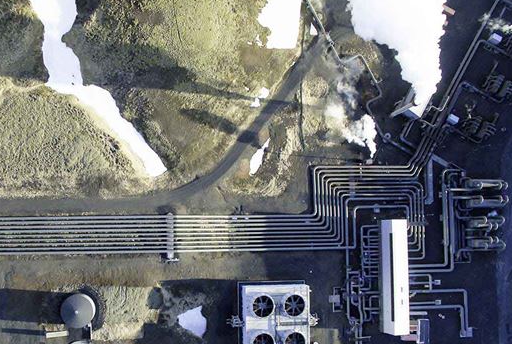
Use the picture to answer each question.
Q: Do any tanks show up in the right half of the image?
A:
No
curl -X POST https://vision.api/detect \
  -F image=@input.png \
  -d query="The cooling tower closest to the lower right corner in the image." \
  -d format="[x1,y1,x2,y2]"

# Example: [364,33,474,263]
[238,281,312,344]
